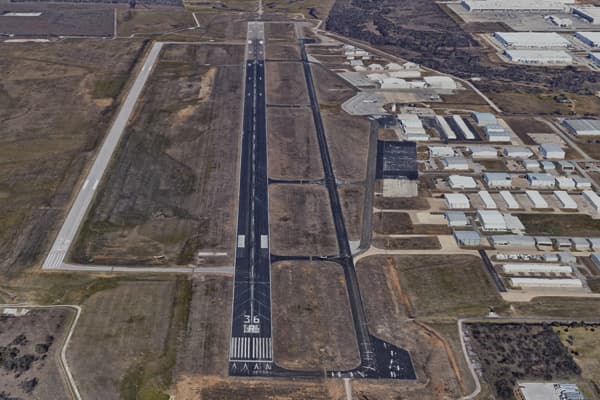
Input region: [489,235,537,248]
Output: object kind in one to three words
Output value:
hangar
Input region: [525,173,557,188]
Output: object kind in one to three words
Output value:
building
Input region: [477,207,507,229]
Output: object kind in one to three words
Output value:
hangar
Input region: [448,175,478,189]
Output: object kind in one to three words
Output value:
building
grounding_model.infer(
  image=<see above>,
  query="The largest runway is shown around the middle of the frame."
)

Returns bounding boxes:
[228,31,273,377]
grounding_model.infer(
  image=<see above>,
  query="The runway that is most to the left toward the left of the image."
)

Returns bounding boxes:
[42,42,163,269]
